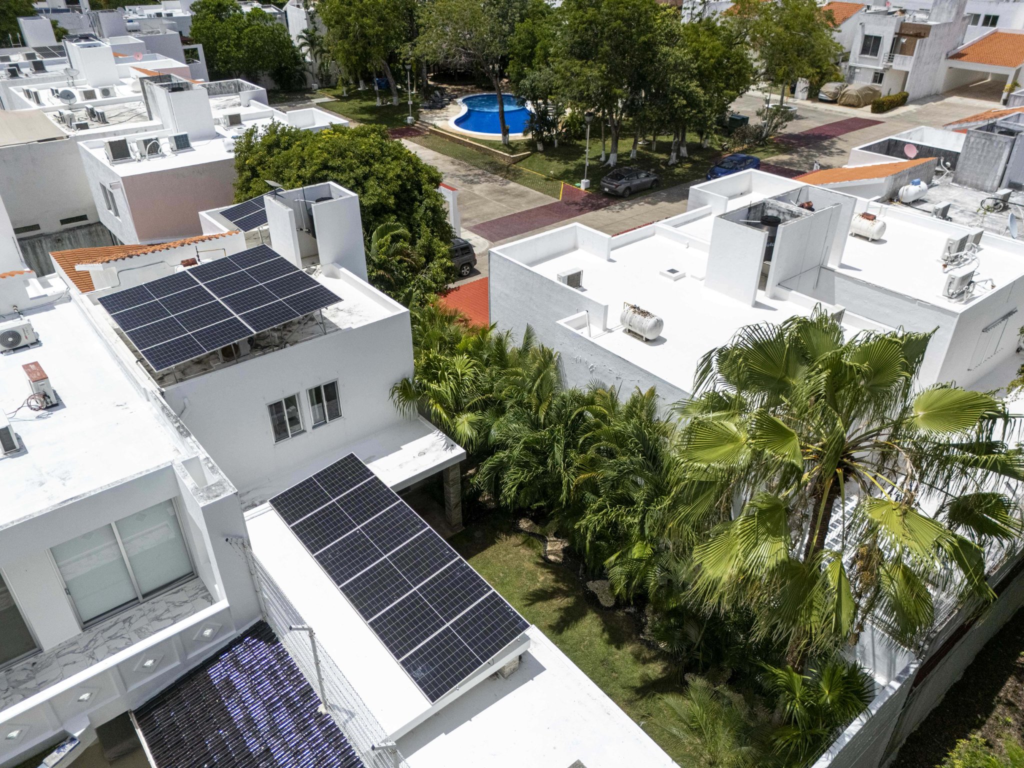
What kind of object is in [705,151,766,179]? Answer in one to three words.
car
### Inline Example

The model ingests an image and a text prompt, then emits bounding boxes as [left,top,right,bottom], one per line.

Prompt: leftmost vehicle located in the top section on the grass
[598,165,665,198]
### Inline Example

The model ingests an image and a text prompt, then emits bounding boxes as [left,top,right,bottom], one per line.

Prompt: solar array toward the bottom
[267,452,530,702]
